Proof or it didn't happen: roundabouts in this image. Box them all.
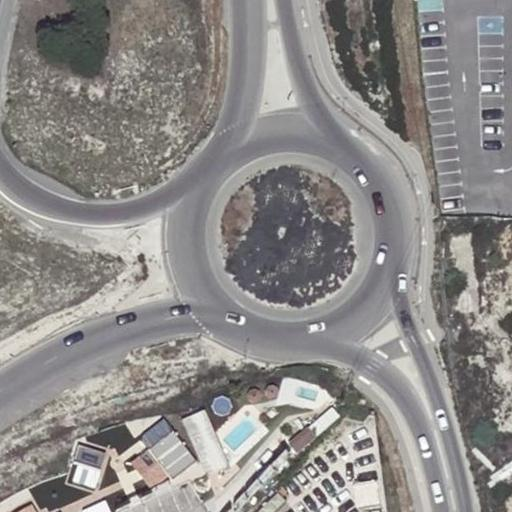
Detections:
[164,111,416,363]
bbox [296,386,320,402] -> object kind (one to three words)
swimming pool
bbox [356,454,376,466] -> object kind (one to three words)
vehicle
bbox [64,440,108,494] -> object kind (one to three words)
house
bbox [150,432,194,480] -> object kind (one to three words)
building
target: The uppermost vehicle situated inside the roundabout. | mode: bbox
[352,166,370,189]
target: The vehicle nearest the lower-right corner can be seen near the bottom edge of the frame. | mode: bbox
[432,481,444,503]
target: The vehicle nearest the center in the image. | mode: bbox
[224,312,246,324]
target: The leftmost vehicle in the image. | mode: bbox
[63,331,85,346]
